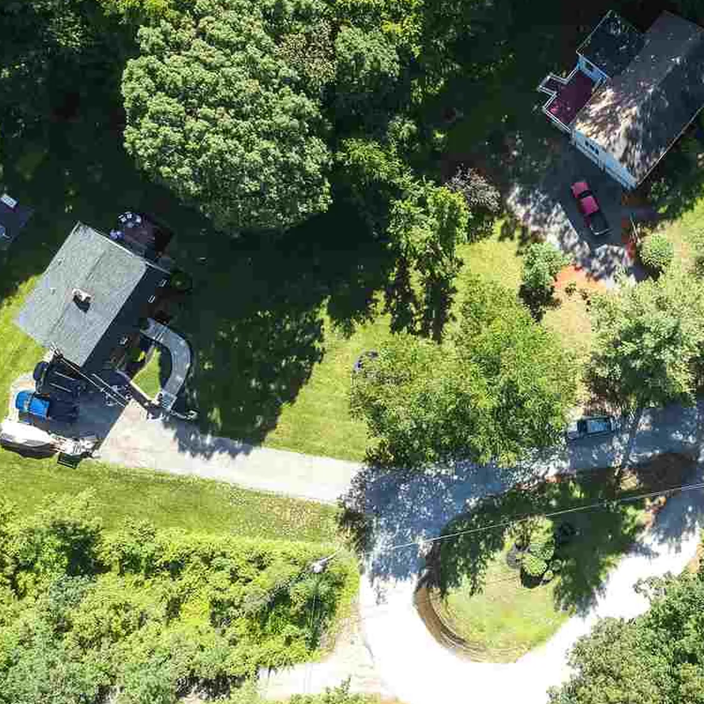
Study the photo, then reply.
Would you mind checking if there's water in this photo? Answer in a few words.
No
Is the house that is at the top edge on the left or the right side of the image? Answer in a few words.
right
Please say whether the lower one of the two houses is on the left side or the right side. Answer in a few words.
left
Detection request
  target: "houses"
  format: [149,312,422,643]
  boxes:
[13,221,169,368]
[539,8,704,189]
